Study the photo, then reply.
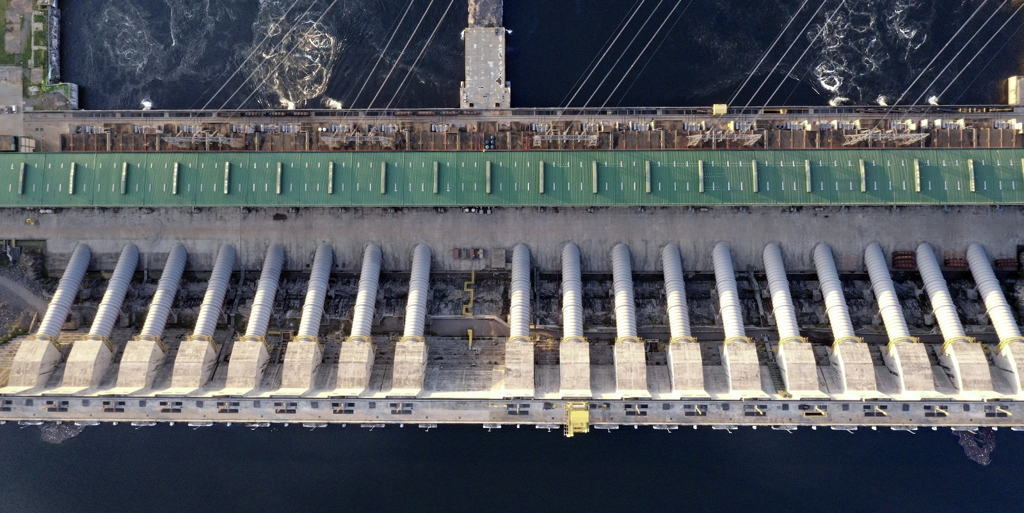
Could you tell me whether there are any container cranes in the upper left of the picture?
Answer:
No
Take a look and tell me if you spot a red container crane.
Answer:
No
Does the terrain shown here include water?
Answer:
Yes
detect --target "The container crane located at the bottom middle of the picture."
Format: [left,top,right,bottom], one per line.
[565,400,590,436]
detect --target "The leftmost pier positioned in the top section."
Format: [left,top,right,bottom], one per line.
[460,27,511,108]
